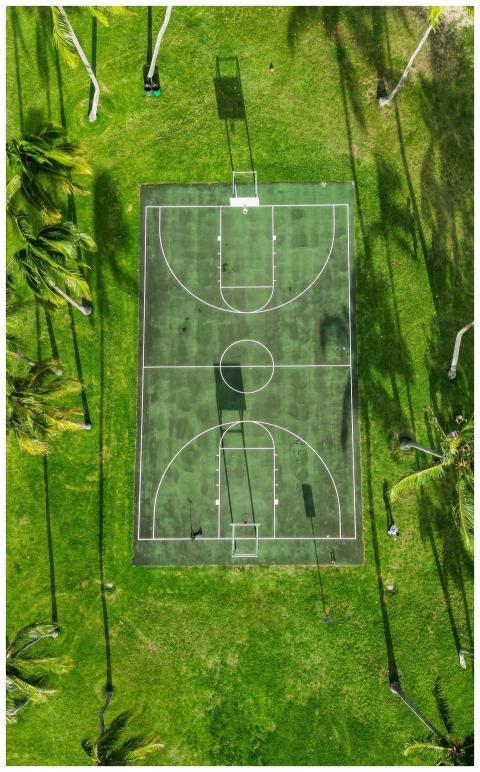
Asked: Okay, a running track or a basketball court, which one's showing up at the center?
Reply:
basketball court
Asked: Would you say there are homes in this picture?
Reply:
No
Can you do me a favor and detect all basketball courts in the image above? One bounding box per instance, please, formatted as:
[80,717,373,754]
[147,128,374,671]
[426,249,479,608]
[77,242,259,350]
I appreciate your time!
[133,180,364,567]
